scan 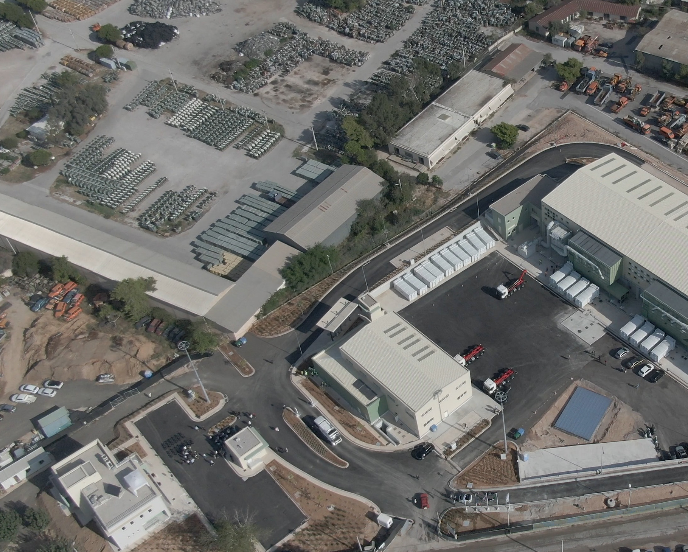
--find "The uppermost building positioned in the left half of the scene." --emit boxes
[26,117,63,148]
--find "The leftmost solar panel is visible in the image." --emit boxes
[102,481,123,499]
